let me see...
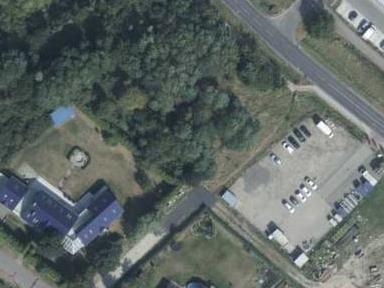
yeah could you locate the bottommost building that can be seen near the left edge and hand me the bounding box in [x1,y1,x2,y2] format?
[0,170,124,255]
